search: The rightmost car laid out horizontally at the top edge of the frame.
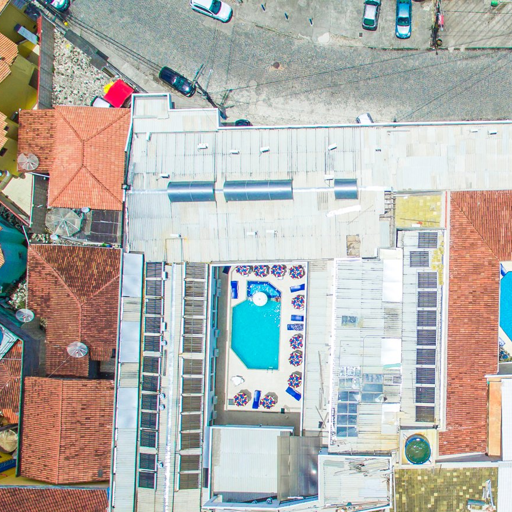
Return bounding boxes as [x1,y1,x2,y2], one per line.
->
[189,0,234,23]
